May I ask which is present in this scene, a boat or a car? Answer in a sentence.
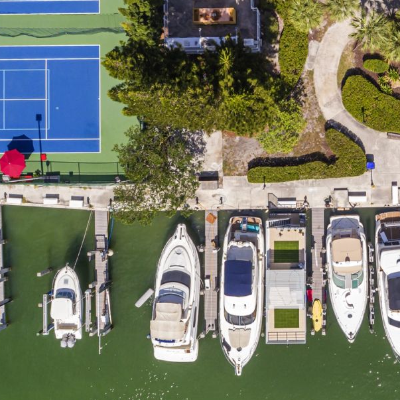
Of the two, only a boat appears.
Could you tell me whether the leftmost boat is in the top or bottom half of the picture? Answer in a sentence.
The leftmost boat is in the bottom half of the image.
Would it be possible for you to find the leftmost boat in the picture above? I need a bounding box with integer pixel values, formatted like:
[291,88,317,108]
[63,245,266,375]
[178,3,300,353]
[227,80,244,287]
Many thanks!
[51,263,87,345]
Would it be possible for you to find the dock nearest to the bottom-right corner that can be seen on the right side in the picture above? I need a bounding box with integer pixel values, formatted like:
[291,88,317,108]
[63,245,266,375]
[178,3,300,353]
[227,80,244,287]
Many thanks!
[312,209,324,332]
